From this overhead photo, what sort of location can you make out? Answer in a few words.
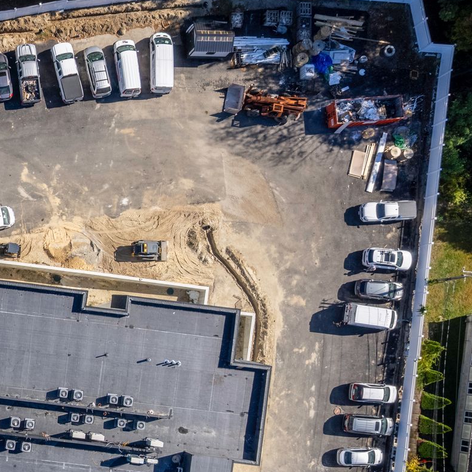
parking lot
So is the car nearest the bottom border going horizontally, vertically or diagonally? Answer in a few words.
horizontally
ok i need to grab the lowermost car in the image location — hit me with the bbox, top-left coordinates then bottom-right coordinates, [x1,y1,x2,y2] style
[333,446,382,471]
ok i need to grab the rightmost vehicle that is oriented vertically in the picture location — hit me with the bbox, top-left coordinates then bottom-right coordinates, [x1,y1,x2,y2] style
[147,34,175,97]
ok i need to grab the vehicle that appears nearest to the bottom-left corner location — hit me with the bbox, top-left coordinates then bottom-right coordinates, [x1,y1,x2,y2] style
[0,242,20,259]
